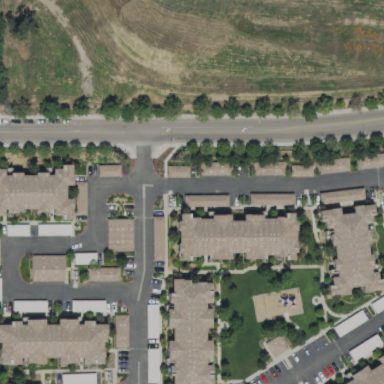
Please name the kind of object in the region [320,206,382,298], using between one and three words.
building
